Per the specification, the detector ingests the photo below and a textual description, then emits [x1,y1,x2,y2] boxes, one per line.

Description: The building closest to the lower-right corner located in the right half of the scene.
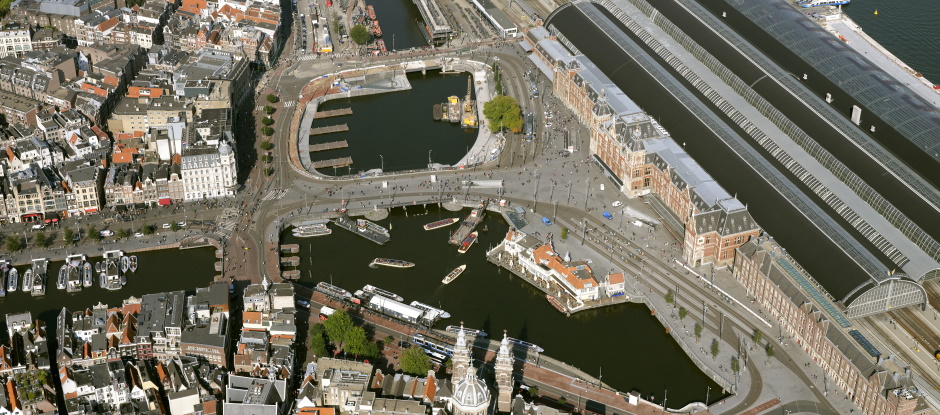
[735,241,940,415]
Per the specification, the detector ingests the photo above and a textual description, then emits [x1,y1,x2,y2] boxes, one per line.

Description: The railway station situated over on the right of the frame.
[497,15,761,267]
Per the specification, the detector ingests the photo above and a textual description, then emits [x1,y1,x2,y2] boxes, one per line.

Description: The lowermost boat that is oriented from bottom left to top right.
[441,264,466,283]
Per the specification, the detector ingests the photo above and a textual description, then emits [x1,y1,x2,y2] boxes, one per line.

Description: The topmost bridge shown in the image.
[386,45,456,77]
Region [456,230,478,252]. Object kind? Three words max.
boat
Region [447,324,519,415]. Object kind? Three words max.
building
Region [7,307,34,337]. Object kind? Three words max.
house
